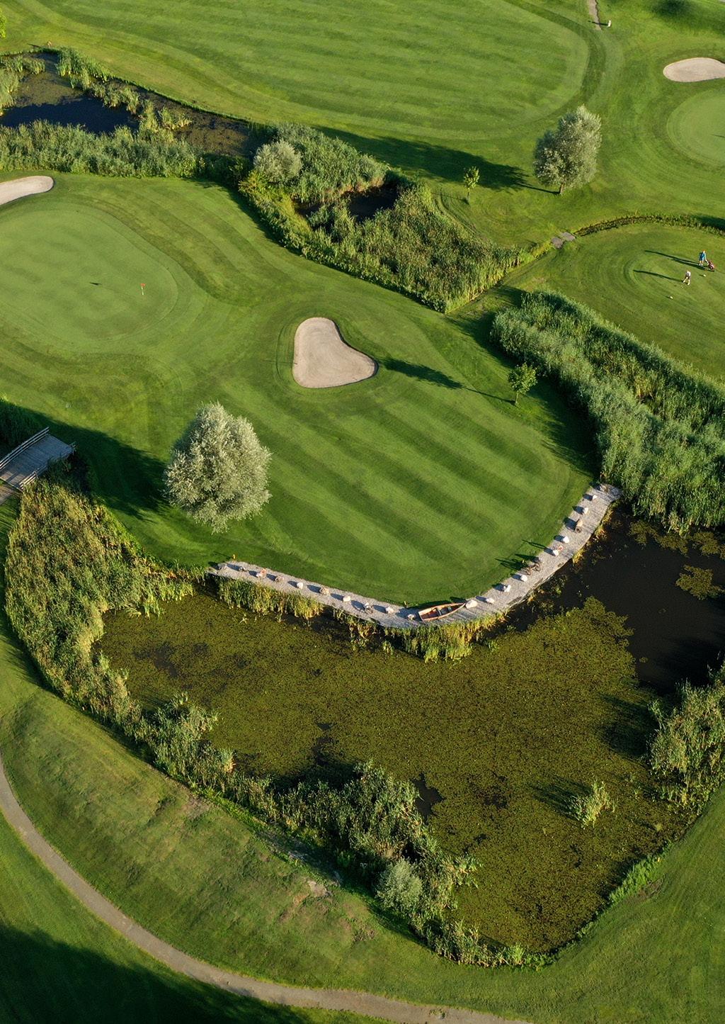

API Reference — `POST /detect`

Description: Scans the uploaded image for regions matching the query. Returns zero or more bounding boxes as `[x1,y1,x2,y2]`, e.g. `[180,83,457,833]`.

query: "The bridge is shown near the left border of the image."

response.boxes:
[0,424,73,492]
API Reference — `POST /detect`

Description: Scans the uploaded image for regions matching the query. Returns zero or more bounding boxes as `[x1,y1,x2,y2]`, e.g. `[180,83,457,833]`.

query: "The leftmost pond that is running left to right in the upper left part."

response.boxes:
[0,52,265,162]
